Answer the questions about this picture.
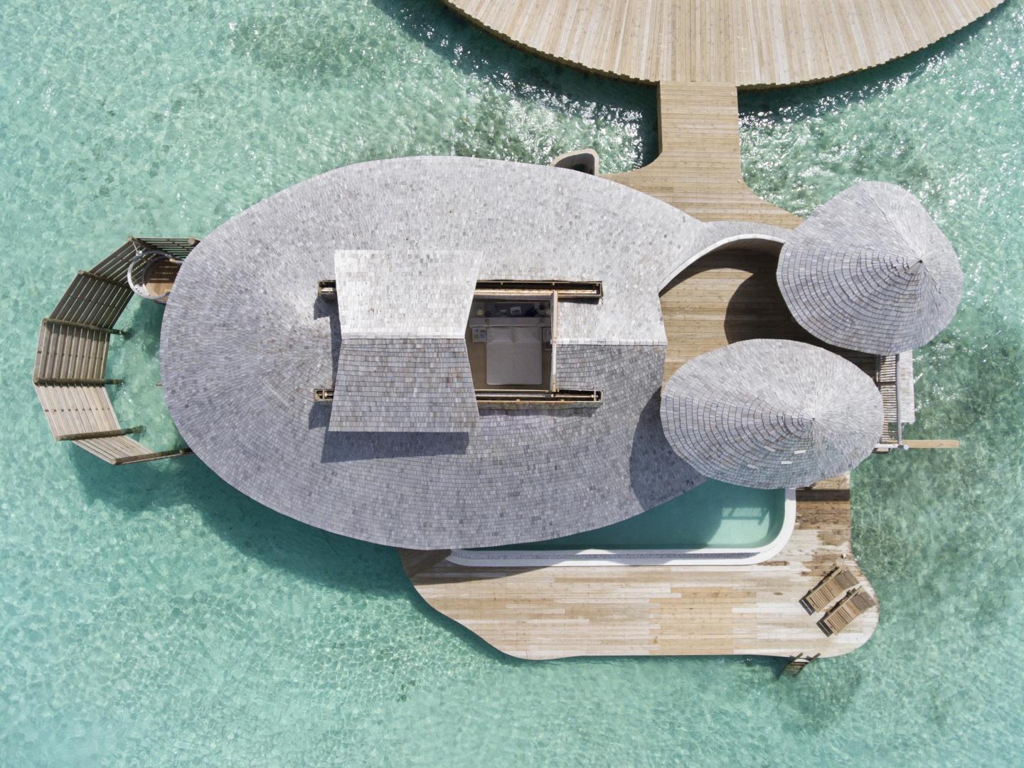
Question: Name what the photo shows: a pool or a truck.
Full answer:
Of the two, only a pool appears.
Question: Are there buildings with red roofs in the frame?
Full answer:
No, the picture doesn't show any building with a red roof.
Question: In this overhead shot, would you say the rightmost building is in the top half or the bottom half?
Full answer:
Seen from above, the rightmost building lies in the top half of the view.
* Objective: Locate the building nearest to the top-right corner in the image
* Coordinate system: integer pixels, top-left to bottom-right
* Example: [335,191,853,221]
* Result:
[775,179,964,356]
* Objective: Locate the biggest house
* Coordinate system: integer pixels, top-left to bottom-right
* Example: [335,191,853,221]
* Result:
[159,155,706,550]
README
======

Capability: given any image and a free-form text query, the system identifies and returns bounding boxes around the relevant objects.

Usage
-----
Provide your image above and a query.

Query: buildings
[775,179,964,356]
[159,155,706,550]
